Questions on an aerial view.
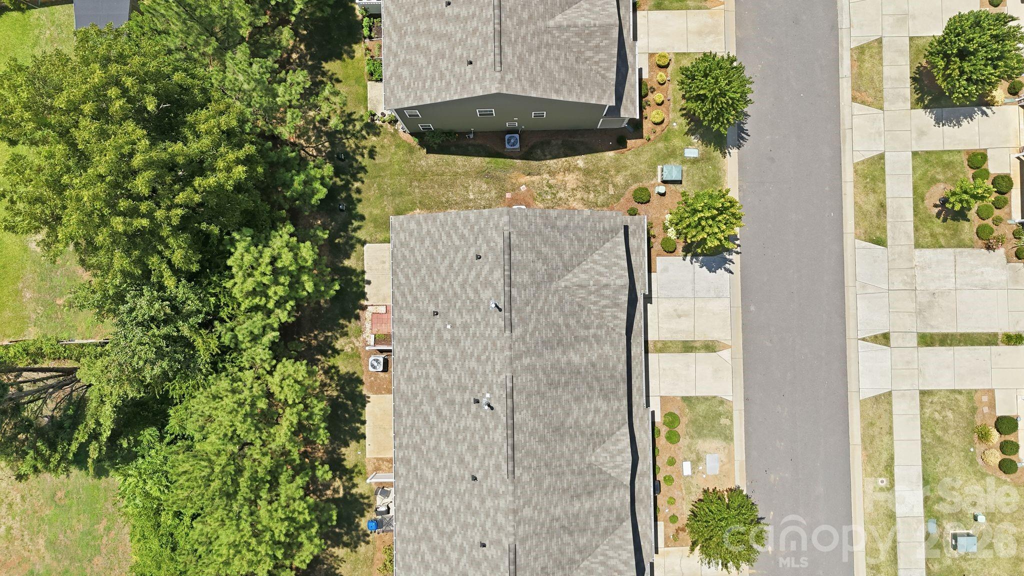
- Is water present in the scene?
No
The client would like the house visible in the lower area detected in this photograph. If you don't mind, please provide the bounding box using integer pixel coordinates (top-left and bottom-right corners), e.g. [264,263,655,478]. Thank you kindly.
[389,208,655,576]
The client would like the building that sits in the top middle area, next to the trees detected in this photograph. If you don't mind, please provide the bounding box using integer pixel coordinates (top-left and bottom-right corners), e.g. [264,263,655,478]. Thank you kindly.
[382,0,640,132]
